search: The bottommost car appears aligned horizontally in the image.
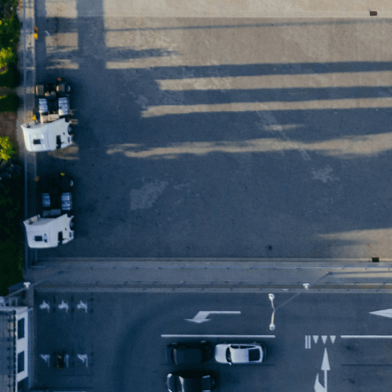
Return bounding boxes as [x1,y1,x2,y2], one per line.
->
[168,370,217,392]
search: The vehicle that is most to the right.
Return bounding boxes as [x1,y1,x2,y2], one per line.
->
[217,340,269,368]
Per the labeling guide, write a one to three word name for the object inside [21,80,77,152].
truck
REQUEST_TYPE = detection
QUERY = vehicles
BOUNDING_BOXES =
[168,370,217,392]
[167,340,214,368]
[21,80,77,152]
[217,340,269,368]
[24,174,80,248]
